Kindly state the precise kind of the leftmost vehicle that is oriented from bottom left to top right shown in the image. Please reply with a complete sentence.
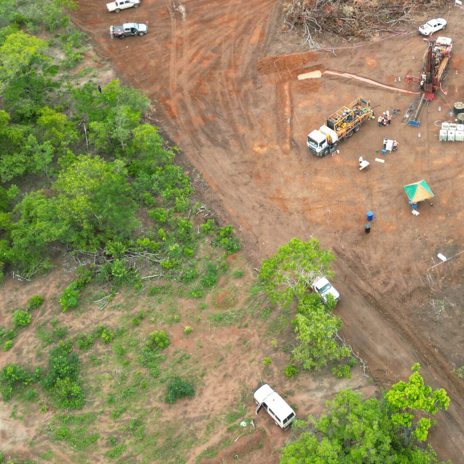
What you see as the leftmost vehicle that is oriented from bottom left to top right is a truck.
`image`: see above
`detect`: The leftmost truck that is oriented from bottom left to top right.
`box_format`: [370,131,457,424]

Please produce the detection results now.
[305,98,374,160]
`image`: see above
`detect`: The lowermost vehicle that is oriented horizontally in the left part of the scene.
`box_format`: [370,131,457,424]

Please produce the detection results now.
[113,24,149,40]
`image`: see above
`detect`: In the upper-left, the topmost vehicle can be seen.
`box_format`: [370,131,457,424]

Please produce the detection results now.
[108,0,142,14]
